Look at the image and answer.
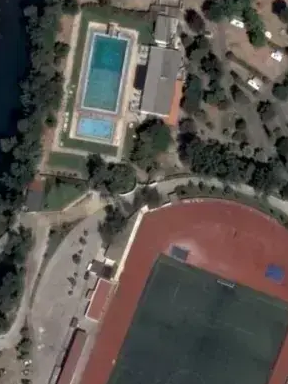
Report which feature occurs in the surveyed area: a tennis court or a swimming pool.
swimming pool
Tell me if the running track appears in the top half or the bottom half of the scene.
bottom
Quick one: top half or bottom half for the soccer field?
bottom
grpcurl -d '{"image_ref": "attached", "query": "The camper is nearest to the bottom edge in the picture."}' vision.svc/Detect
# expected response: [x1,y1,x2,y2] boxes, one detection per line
[247,75,259,88]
